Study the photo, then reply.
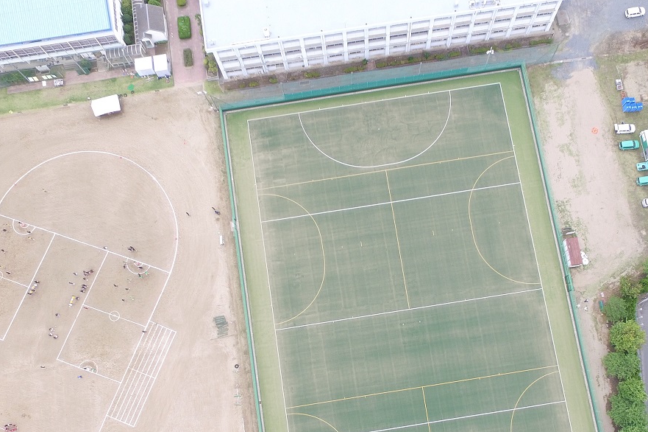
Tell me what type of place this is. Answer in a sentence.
This image shows a sports ground.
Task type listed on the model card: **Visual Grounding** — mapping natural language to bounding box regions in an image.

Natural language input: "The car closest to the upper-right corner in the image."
[626,5,647,17]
